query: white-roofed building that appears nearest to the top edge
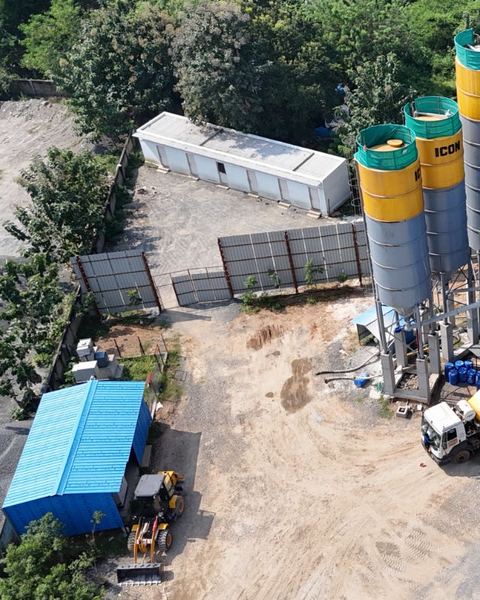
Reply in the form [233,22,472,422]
[133,108,356,216]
